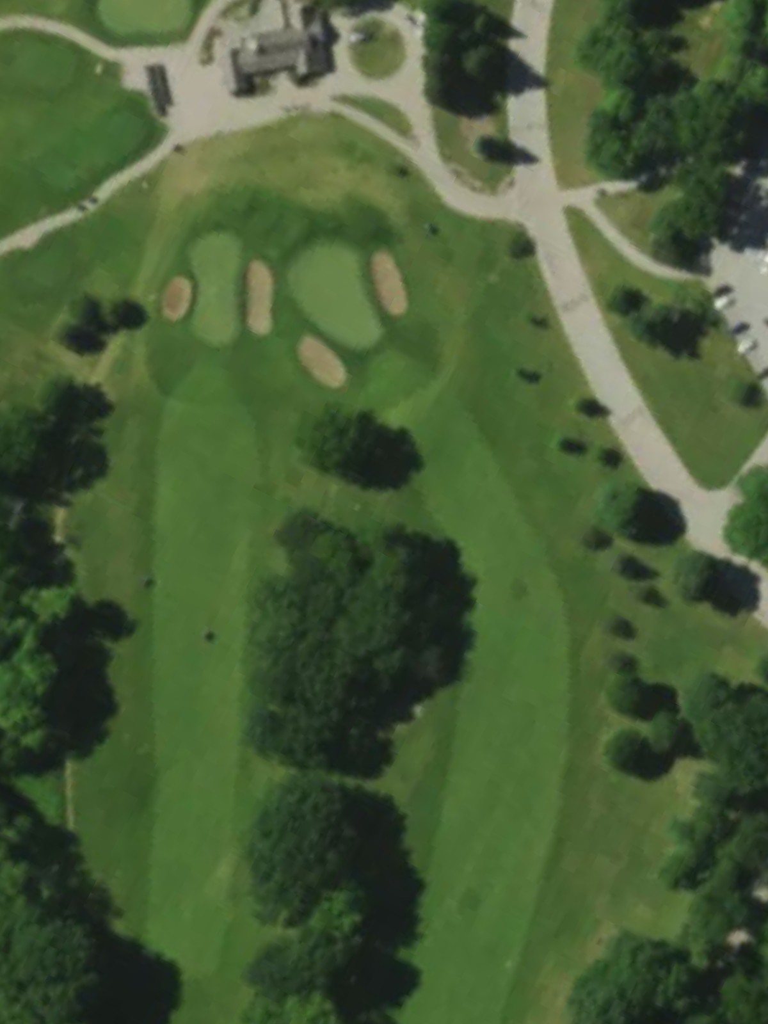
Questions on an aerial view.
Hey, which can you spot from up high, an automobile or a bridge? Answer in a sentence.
This aerial view contains an automobile.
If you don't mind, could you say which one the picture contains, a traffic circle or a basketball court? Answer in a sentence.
The image shows a traffic circle.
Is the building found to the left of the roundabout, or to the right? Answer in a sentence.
The building appears to the left of the roundabout in this view.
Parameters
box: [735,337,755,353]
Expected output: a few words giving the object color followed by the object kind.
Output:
white car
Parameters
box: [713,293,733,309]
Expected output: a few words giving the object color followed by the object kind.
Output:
white car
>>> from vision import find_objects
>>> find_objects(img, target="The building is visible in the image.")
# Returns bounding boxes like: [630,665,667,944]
[231,14,329,98]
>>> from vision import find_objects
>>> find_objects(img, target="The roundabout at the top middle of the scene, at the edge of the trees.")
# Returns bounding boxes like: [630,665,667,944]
[333,3,421,93]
